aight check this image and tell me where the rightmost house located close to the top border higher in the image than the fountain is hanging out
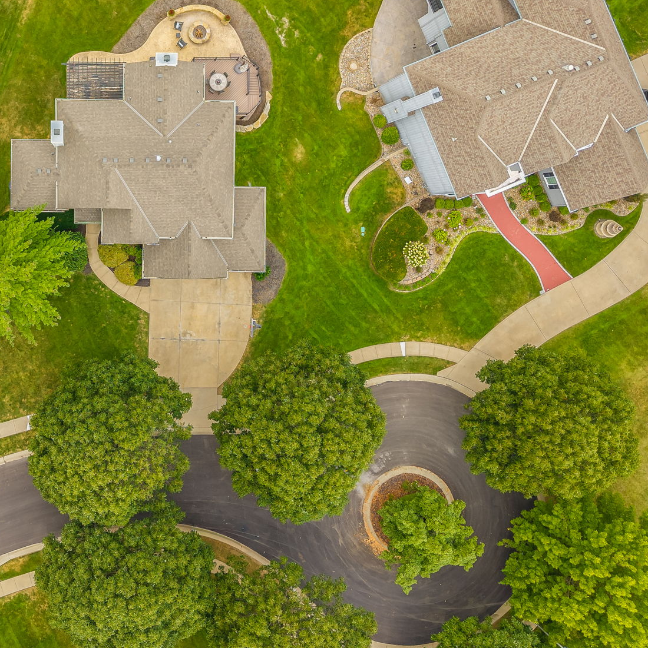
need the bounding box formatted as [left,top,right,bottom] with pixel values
[366,0,648,214]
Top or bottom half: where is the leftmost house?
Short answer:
top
